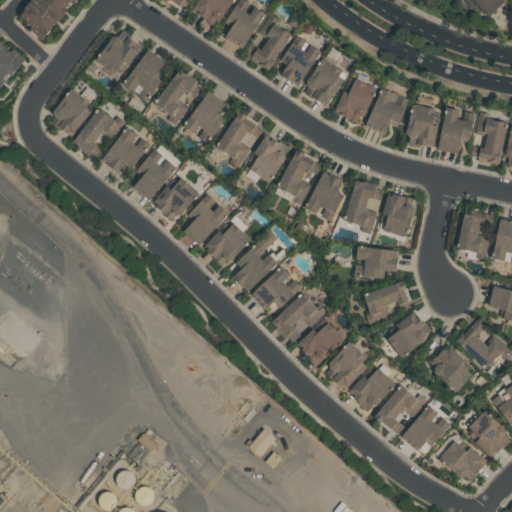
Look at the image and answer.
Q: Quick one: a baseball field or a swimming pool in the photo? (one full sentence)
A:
Looking from above, you can make out a swimming pool.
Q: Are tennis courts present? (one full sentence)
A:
No, there is no tennis court in the image.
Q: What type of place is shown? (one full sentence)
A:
The area seen from above is a residential area.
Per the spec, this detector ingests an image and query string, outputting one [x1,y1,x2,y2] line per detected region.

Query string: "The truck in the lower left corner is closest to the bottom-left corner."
[80,457,101,482]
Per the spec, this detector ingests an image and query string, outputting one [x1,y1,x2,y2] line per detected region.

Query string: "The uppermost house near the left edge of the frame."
[24,0,80,34]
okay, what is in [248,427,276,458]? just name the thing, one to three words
shed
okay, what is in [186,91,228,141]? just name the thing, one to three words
house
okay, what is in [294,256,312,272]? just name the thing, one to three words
swimming pool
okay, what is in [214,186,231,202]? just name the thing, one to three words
swimming pool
